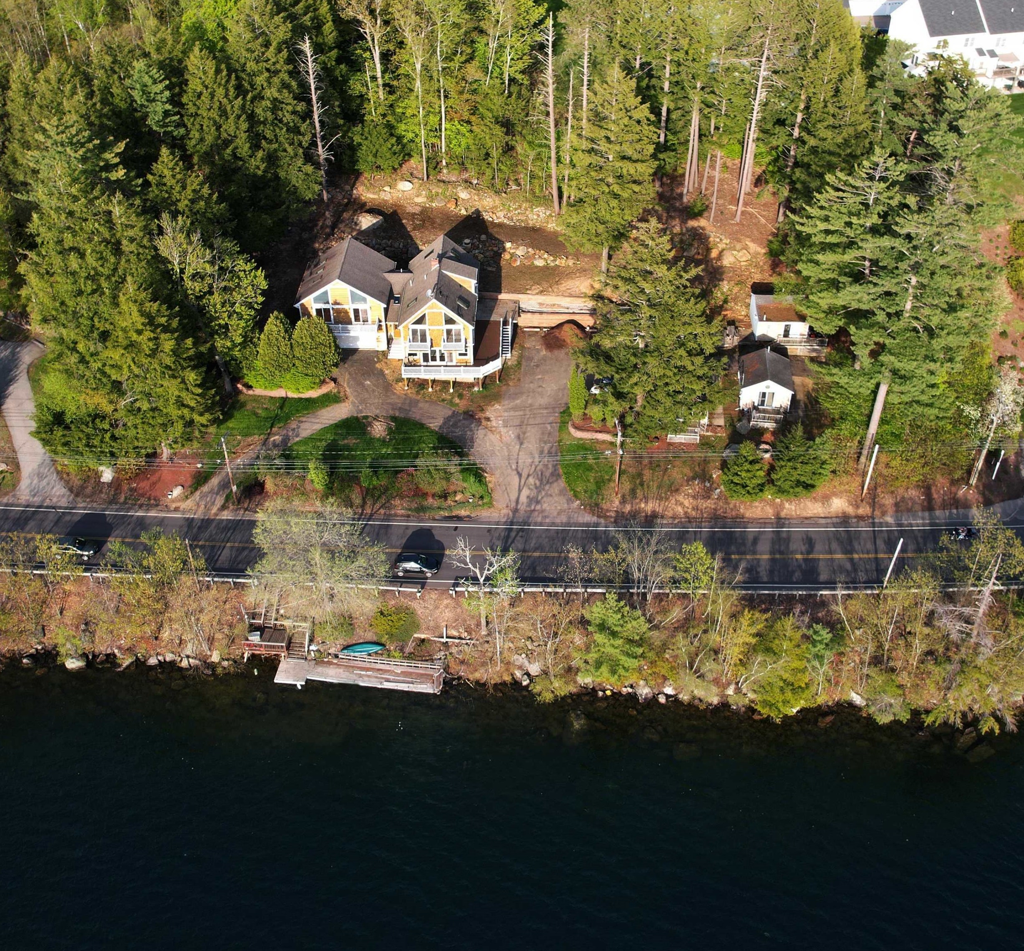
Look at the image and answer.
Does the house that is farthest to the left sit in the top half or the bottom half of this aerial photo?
top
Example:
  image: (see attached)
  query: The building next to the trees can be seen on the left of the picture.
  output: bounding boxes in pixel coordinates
[293,232,483,365]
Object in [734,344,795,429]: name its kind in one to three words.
house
